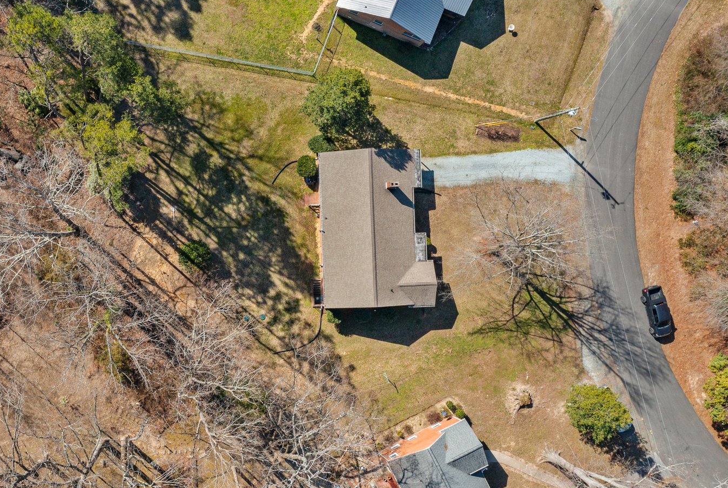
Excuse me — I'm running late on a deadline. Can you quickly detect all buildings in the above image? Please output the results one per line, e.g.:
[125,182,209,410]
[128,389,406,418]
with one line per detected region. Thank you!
[381,415,494,488]
[334,0,472,49]
[315,149,437,309]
